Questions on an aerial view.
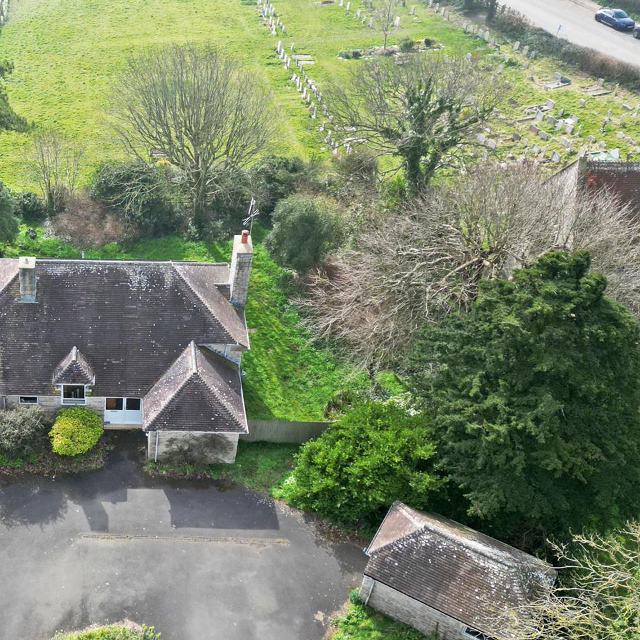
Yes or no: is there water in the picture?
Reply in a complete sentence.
No, the picture contains no water.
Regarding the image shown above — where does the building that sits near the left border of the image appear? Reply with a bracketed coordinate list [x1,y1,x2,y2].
[0,225,252,461]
